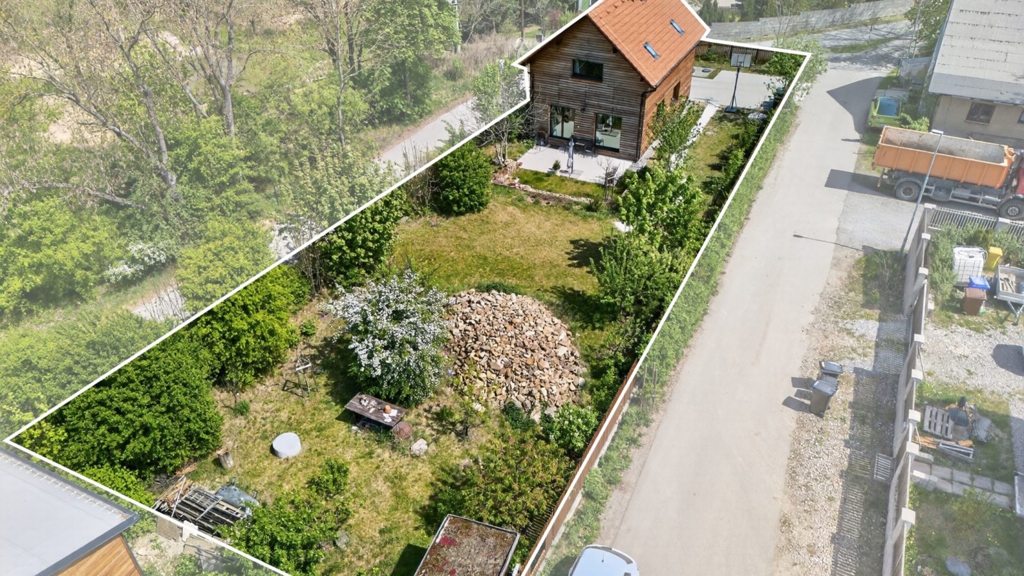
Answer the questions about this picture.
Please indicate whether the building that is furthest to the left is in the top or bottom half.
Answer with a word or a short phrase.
bottom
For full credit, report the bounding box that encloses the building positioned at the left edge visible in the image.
[0,447,138,576]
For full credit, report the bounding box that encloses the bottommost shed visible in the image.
[413,512,521,576]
